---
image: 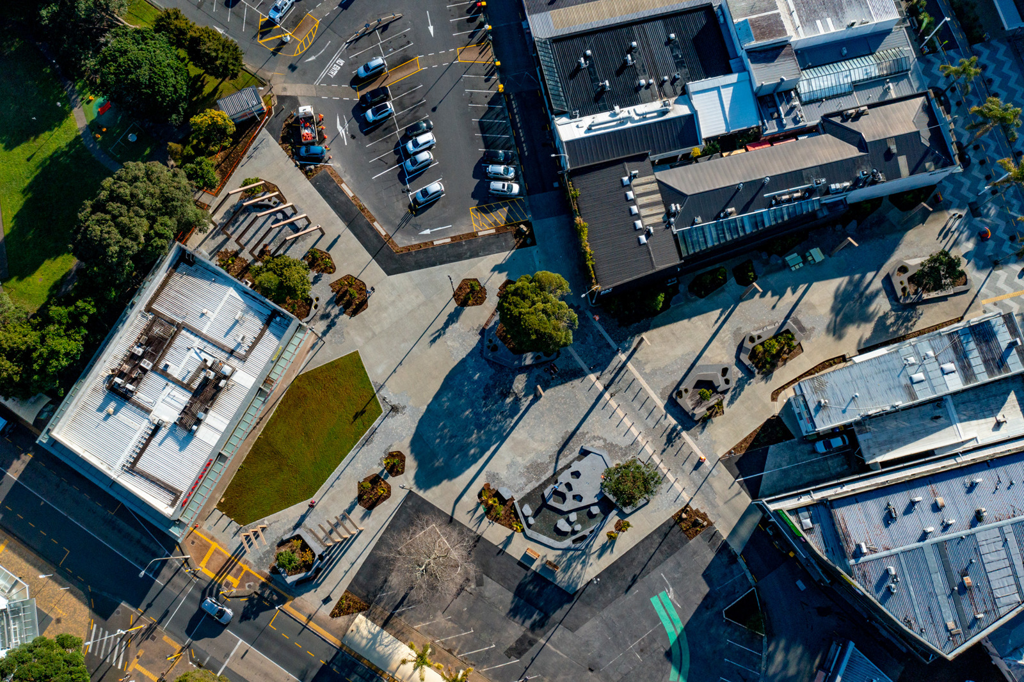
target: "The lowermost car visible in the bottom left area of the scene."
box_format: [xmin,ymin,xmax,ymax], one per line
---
[198,594,237,628]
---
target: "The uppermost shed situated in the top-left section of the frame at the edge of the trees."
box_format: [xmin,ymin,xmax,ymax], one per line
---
[217,86,272,131]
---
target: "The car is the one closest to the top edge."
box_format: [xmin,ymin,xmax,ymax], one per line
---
[269,0,296,23]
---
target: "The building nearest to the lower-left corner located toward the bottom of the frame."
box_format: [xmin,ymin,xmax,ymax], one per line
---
[0,566,40,653]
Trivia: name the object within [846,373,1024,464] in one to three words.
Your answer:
building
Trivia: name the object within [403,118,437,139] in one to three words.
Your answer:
car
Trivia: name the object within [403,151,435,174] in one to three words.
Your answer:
car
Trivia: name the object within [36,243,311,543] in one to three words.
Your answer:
building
